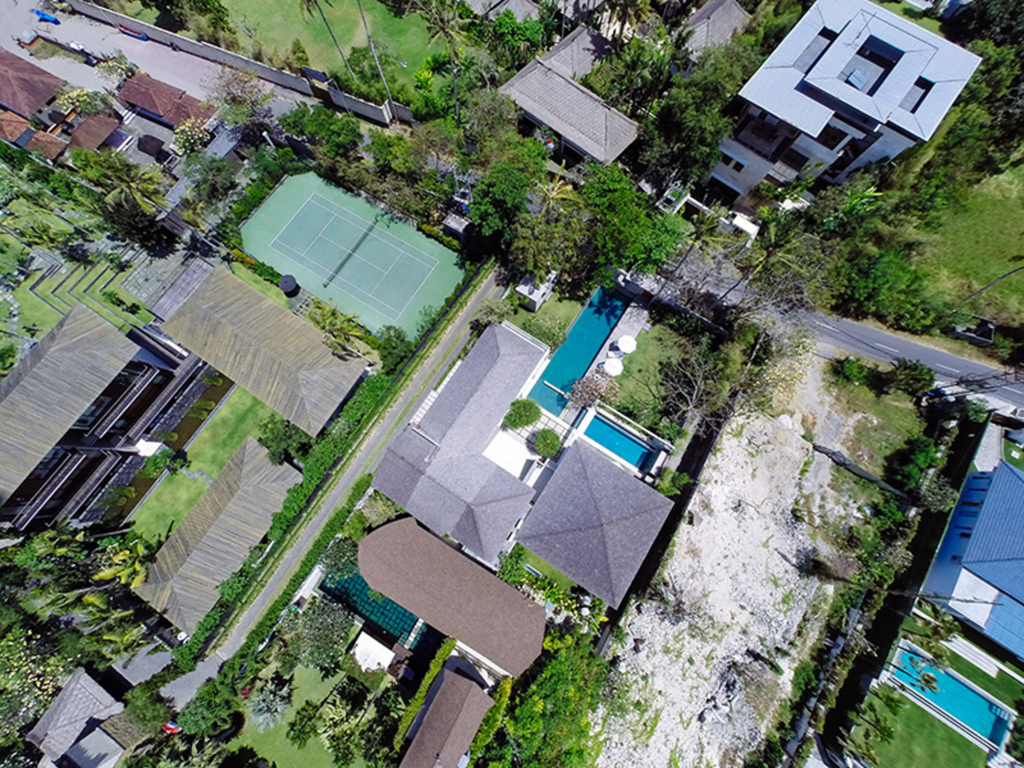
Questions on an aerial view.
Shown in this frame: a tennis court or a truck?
tennis court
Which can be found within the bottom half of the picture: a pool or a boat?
pool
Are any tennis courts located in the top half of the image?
Yes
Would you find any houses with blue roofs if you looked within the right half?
Yes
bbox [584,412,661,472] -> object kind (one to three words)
swimming pool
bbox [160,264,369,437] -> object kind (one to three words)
building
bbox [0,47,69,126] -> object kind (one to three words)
house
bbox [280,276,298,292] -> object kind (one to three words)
umbrella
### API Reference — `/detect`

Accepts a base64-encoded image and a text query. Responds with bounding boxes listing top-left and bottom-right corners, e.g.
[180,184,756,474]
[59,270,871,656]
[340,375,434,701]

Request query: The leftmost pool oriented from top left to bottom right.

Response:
[320,570,445,657]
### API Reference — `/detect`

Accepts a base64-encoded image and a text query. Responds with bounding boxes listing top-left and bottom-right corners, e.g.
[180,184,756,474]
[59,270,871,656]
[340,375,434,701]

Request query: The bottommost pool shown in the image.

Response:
[886,636,1014,753]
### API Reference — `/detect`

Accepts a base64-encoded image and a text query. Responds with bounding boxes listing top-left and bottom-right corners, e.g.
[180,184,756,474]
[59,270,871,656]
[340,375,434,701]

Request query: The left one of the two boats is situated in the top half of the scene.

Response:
[28,5,64,33]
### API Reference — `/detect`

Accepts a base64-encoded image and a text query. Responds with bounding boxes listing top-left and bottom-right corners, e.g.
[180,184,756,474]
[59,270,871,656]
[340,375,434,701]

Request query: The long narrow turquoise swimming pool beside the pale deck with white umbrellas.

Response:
[526,285,634,418]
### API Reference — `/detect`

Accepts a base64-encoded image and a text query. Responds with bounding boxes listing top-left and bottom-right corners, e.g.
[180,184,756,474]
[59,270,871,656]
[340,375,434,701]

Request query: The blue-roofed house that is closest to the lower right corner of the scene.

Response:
[920,459,1024,655]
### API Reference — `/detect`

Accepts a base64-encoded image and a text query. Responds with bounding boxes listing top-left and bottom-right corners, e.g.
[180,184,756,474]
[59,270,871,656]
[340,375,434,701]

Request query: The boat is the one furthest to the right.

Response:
[115,23,149,42]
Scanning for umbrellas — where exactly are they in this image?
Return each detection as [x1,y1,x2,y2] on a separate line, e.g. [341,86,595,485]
[280,276,298,292]
[617,336,636,354]
[603,358,623,377]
